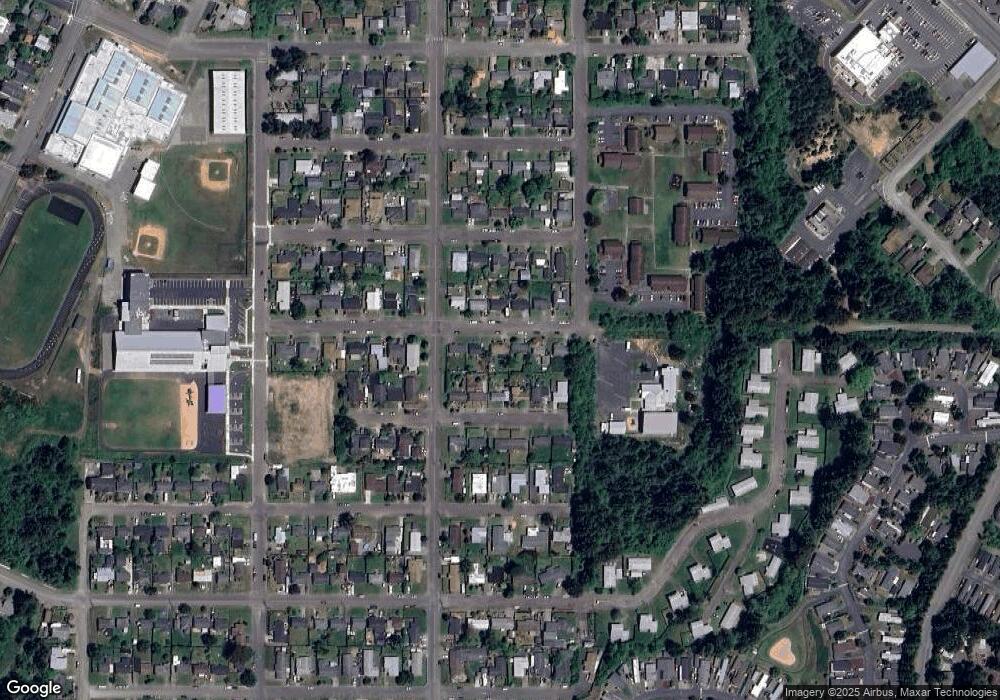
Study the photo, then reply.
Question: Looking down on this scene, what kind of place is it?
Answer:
residential area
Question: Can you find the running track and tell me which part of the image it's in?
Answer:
left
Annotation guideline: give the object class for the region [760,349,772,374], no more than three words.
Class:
house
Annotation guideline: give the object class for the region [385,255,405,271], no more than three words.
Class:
house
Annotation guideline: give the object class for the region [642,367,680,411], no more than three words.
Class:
building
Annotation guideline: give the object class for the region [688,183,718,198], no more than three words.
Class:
building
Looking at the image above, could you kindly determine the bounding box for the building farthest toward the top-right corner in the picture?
[949,41,997,82]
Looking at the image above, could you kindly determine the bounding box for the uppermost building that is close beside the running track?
[44,39,186,179]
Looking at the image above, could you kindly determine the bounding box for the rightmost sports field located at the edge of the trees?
[97,373,198,455]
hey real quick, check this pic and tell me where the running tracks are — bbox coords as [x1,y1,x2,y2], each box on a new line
[0,182,104,379]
